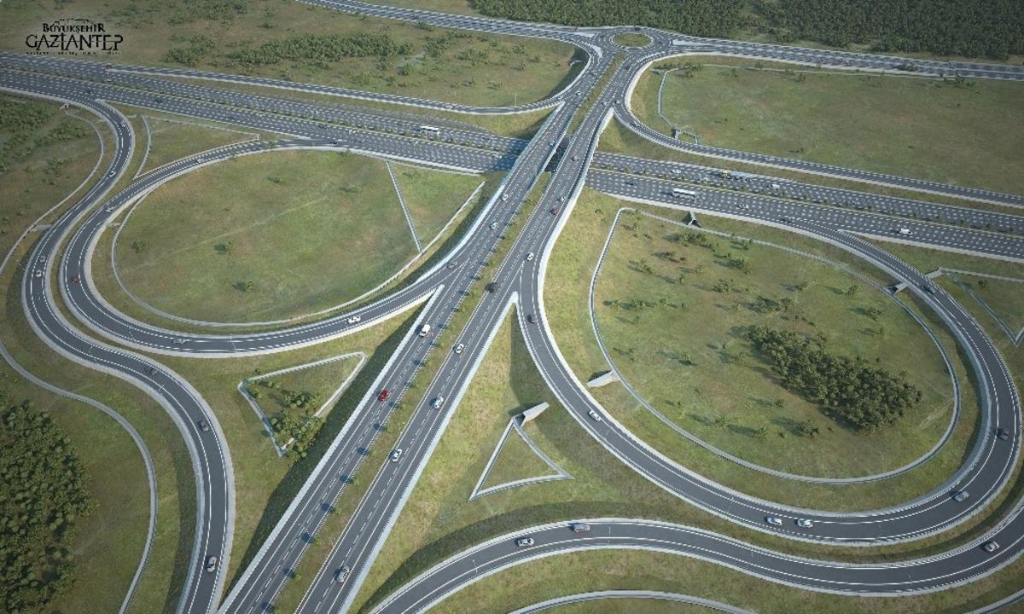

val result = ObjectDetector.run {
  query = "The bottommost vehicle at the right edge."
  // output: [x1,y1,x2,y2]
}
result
[982,540,999,552]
